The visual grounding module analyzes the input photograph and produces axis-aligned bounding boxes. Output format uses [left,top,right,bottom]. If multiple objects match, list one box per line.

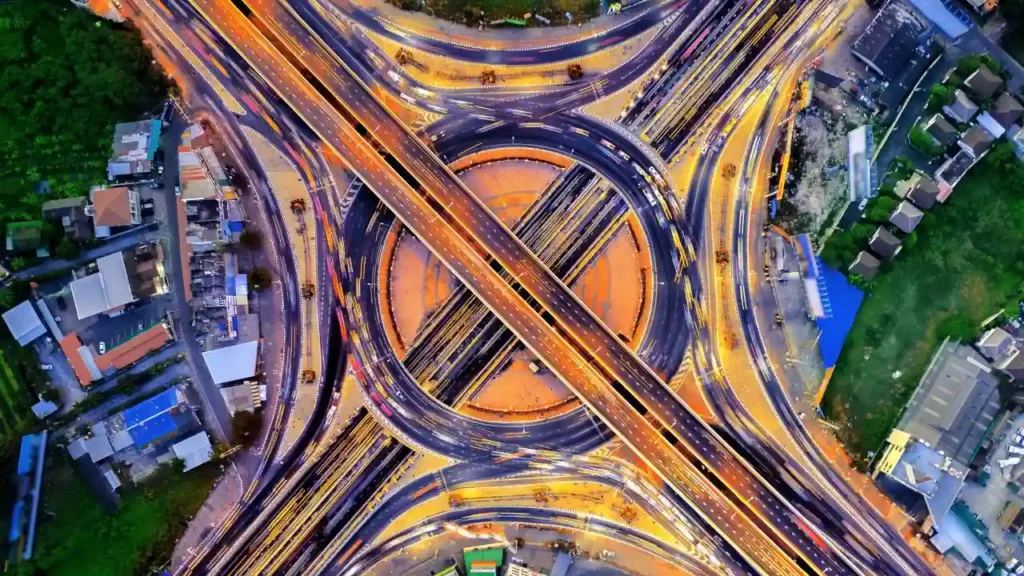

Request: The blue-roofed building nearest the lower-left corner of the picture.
[9,497,30,541]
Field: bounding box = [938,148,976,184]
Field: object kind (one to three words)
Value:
house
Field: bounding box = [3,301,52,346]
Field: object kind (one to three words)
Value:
shed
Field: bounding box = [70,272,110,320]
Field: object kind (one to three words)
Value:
building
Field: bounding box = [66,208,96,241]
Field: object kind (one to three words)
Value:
house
